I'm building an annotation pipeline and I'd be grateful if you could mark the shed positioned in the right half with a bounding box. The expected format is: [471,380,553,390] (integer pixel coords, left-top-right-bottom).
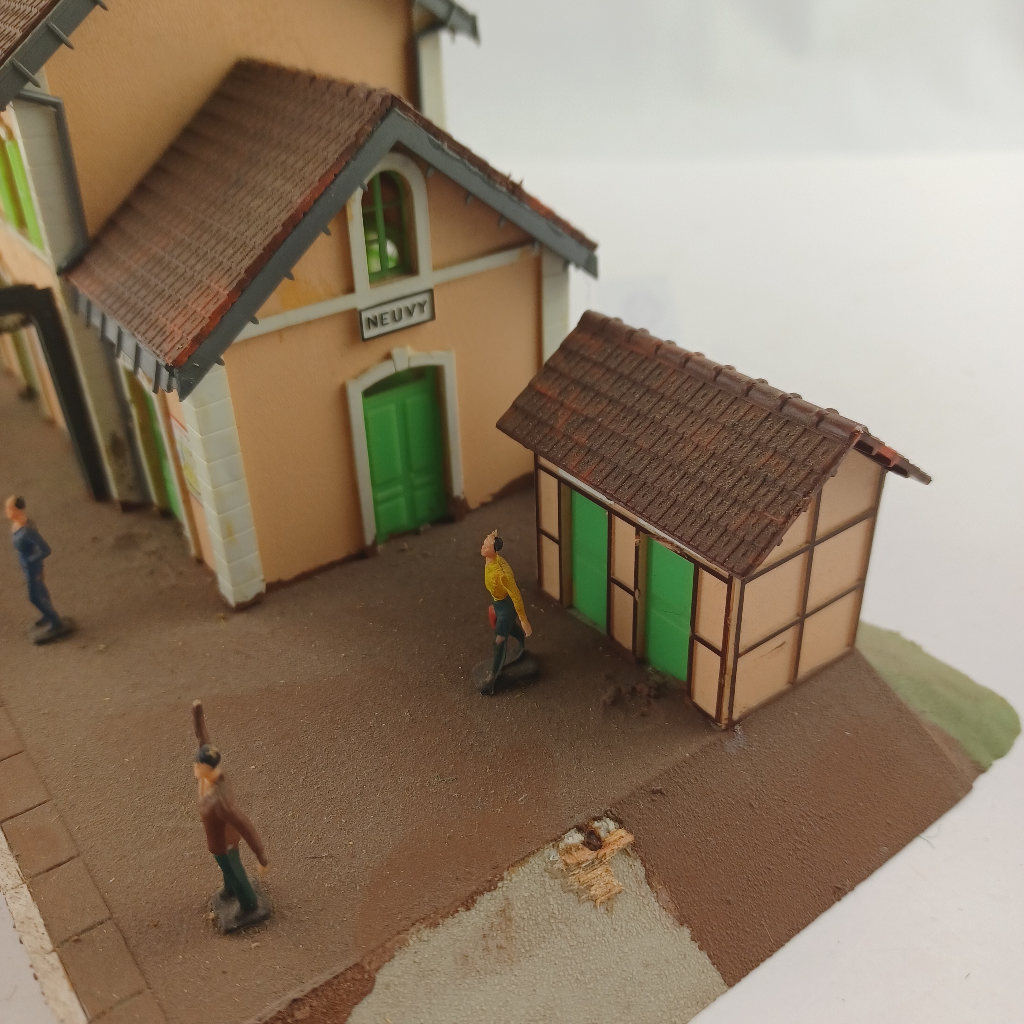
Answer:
[494,305,931,728]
